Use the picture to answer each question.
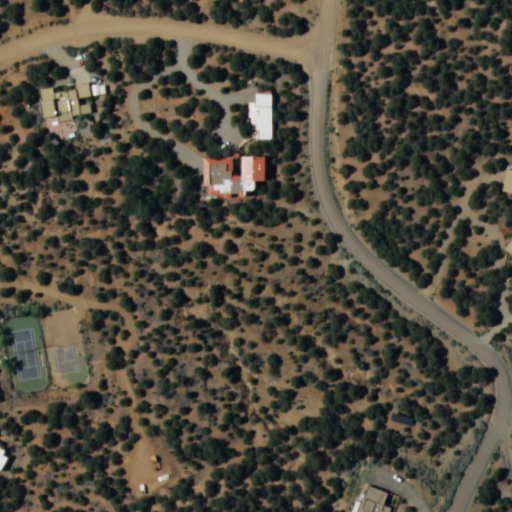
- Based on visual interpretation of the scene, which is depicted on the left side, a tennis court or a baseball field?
tennis court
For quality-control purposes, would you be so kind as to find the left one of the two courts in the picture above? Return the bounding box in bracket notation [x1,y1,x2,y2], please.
[5,318,50,392]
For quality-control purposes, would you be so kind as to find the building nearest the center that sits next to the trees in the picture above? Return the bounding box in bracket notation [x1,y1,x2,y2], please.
[204,154,266,198]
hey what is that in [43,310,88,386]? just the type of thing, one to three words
sports court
